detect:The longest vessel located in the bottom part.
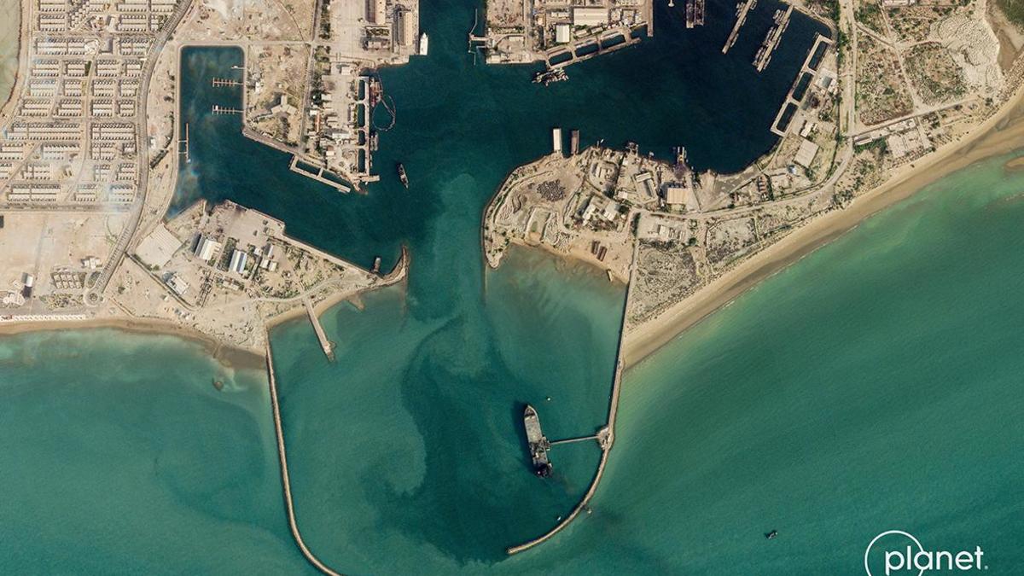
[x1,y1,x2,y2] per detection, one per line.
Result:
[524,405,548,478]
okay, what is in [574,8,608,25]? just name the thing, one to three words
building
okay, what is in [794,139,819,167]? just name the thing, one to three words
building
